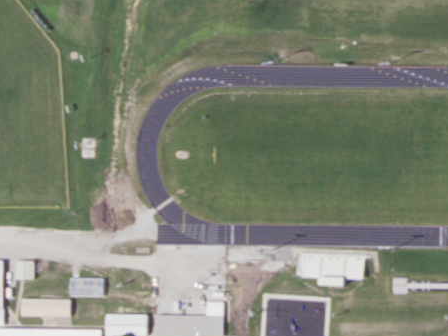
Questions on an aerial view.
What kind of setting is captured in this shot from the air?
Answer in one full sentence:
What you see here is a sports ground.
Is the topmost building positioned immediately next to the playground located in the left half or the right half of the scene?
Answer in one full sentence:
The topmost building positioned immediately next to the playground is on the right side of the image.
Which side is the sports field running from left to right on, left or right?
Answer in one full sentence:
The sports field running from left to right sits on the right side.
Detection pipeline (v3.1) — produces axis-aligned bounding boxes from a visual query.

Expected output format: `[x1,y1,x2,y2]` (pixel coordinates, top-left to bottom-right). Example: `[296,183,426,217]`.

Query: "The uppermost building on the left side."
[15,261,34,281]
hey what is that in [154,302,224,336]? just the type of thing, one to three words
building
